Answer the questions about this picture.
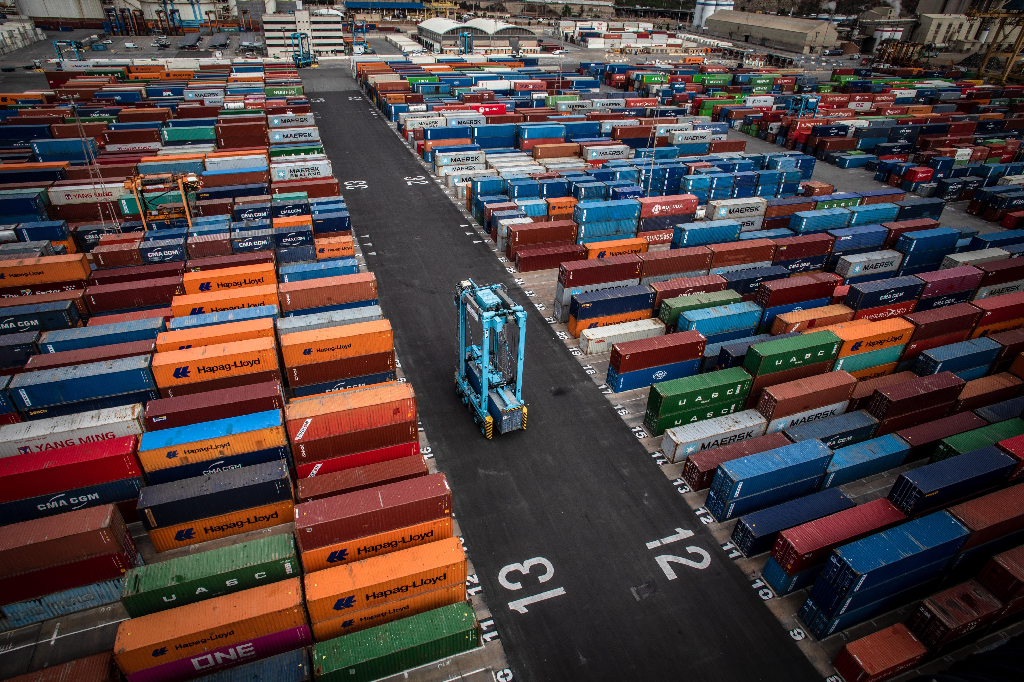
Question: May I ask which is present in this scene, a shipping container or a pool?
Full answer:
The image shows a shipping container.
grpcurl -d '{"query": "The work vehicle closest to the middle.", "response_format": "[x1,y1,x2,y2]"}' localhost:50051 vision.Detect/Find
[452,274,532,439]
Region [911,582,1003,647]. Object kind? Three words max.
shipping container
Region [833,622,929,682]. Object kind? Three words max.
shipping container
